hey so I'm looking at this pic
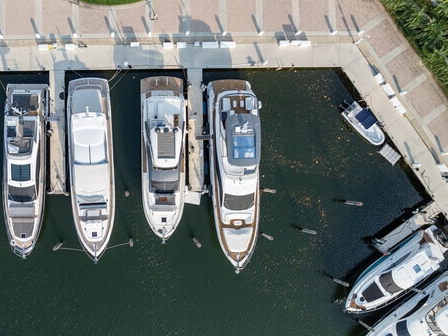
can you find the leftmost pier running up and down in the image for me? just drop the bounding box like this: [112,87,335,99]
[49,72,69,192]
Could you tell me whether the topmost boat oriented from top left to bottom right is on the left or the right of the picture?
right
